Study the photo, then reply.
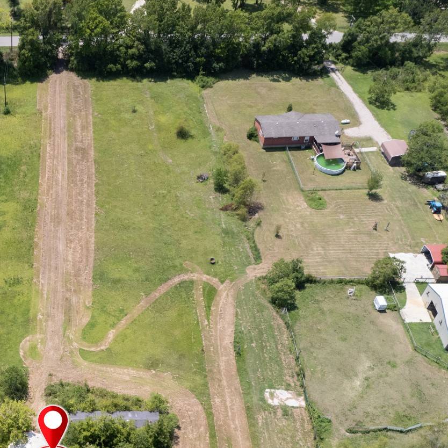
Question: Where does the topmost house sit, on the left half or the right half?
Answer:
right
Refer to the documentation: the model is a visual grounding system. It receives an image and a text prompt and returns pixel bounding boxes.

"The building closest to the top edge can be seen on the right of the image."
[257,104,343,150]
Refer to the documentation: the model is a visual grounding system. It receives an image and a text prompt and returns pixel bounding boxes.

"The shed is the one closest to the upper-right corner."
[377,136,411,167]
